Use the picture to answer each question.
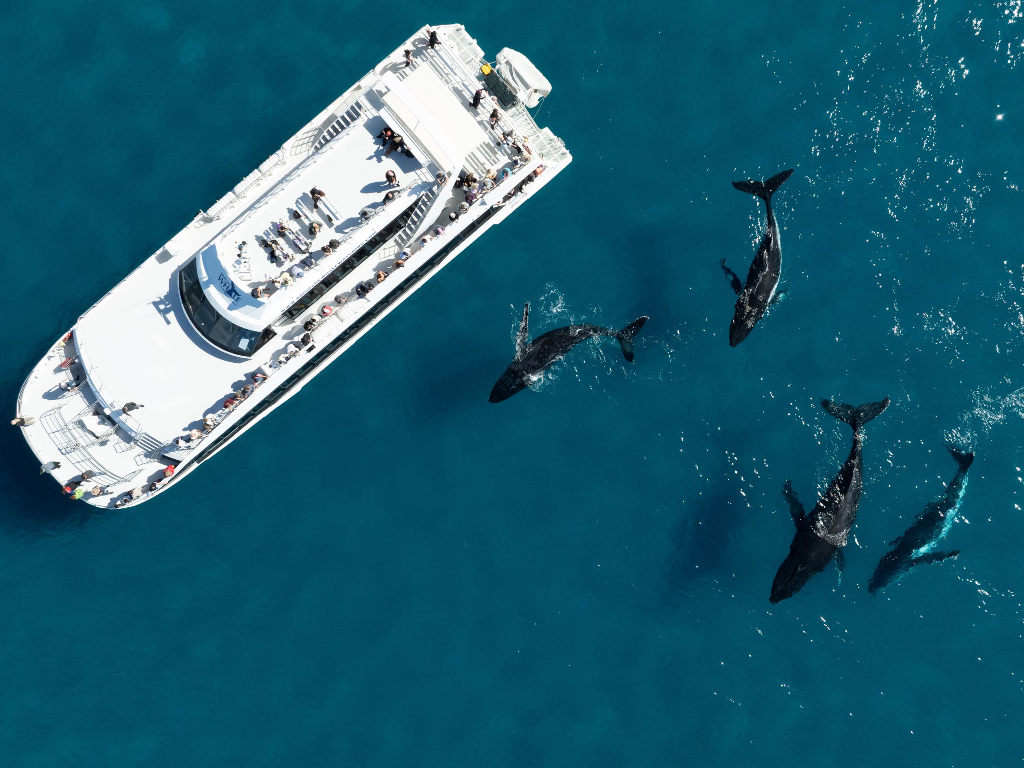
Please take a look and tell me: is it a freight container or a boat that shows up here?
boat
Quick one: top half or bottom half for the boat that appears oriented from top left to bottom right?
top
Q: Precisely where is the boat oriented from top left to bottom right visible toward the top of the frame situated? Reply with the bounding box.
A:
[498,46,550,109]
